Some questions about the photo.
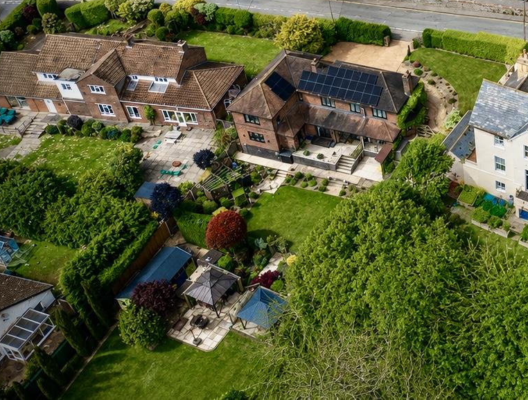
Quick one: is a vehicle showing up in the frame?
No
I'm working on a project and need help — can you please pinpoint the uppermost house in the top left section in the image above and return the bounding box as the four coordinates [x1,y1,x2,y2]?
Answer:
[0,27,245,130]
